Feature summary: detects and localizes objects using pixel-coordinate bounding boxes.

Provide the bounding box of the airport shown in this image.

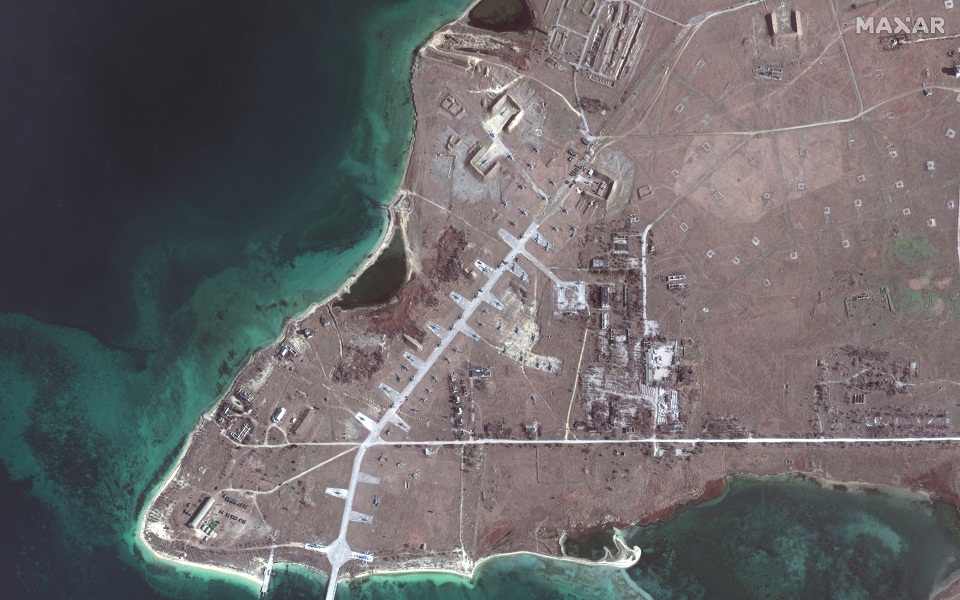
[305,104,592,570]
